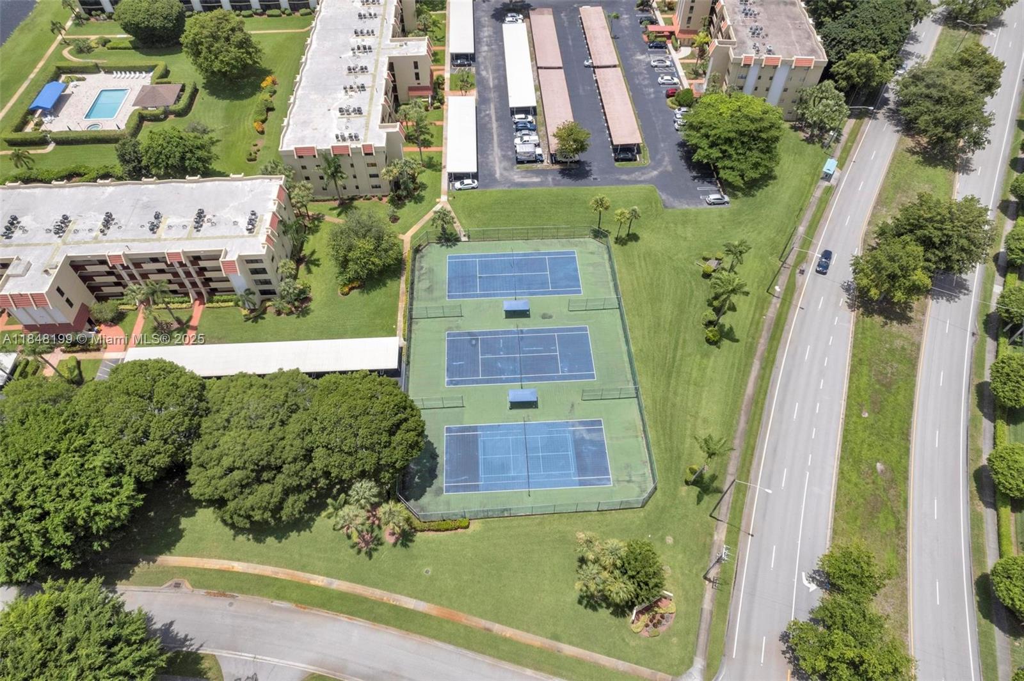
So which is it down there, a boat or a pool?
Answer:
pool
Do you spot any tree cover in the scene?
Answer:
Yes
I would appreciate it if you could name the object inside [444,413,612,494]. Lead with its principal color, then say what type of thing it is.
blue tennis court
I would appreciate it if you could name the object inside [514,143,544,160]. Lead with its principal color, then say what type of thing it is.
white vehicle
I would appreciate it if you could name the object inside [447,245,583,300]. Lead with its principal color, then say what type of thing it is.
blue tennis court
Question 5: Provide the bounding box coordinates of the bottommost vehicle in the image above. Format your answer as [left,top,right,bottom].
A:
[816,250,834,275]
